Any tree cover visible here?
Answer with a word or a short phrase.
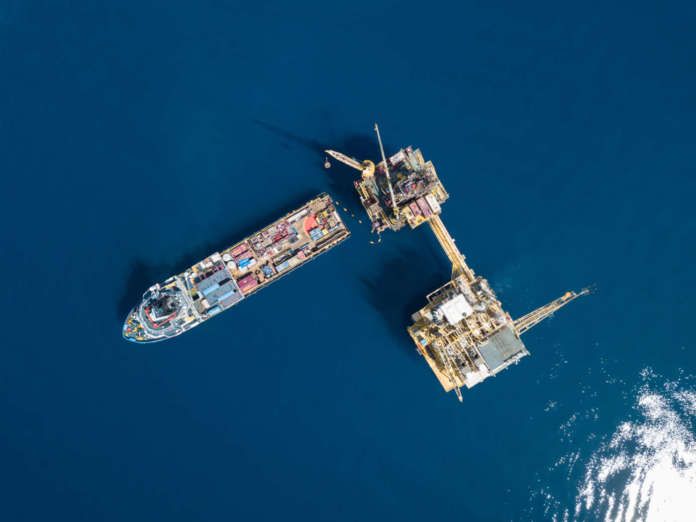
No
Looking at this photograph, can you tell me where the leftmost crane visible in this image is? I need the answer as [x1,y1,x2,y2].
[324,150,377,181]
